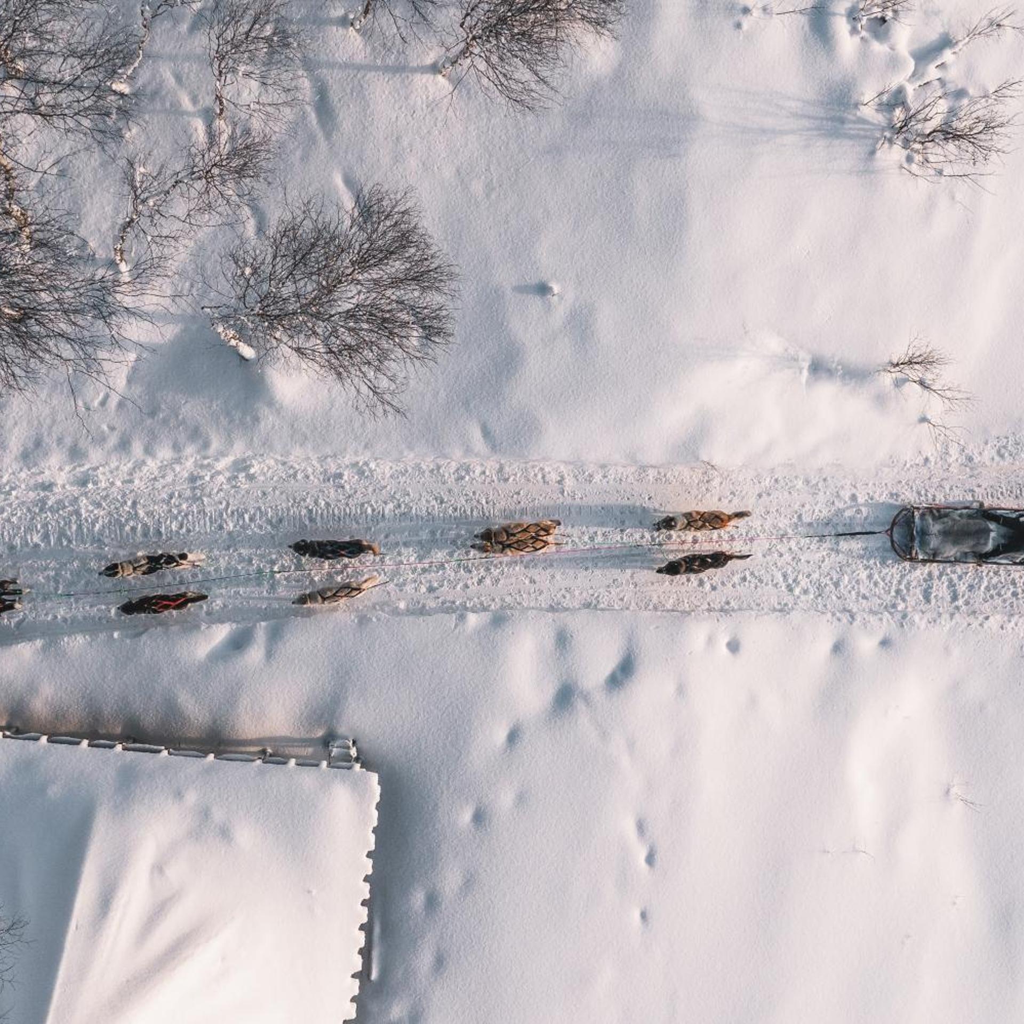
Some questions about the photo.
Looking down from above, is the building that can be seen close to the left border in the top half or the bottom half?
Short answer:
bottom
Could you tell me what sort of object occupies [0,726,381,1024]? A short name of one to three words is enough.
building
